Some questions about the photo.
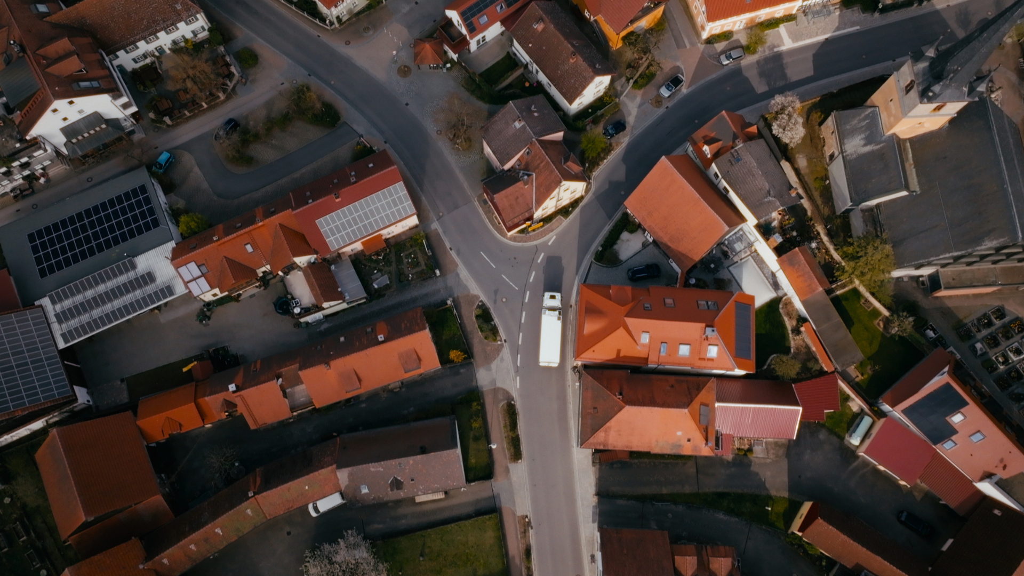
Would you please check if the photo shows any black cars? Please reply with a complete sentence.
Yes, a black car is visible in the scene.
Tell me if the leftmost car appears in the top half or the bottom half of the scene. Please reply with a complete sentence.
The leftmost car is in the top half of the image.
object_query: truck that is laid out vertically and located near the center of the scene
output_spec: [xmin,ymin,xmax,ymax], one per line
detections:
[539,293,564,370]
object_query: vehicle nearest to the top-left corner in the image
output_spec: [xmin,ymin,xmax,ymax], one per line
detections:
[150,148,177,174]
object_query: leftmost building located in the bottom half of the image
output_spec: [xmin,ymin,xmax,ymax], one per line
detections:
[0,304,91,425]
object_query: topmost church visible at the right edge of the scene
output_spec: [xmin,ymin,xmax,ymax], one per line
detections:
[817,4,1024,273]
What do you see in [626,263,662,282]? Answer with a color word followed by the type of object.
black car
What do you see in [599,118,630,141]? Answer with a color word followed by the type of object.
black car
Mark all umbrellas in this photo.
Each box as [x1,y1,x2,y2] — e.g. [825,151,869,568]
[686,276,696,286]
[292,305,303,316]
[36,175,50,187]
[34,167,48,178]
